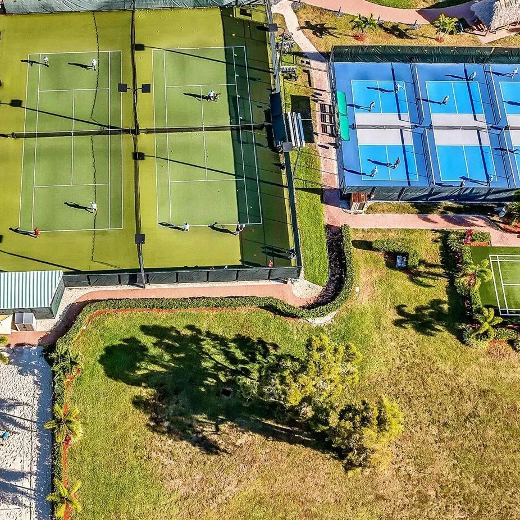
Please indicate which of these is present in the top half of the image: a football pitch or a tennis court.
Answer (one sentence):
It is a tennis court that can be seen in the top half of the image.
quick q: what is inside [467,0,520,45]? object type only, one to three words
shed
